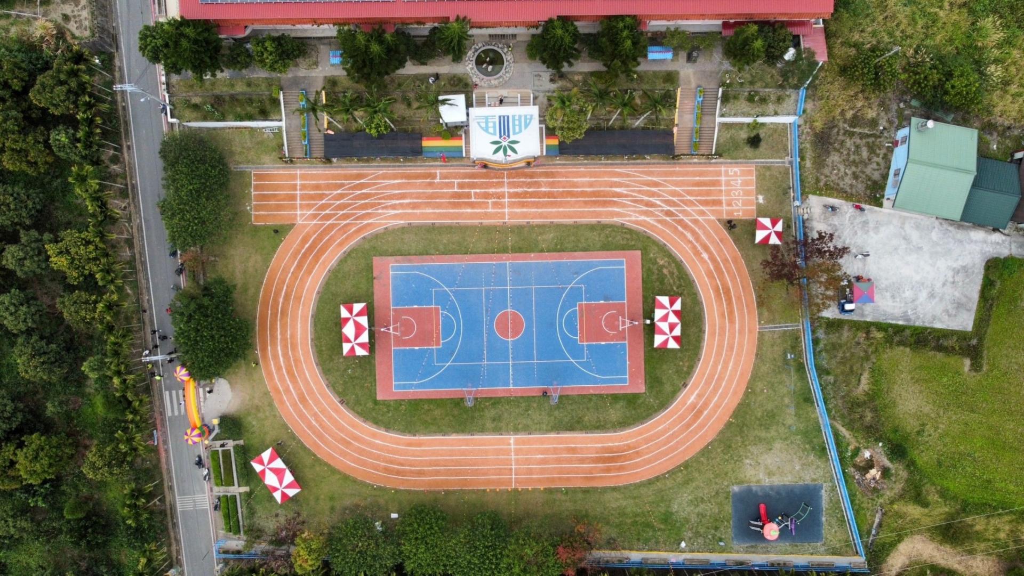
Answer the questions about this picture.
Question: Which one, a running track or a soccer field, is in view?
running track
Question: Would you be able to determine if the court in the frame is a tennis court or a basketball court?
basketball court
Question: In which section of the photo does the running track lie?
center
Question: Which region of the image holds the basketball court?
center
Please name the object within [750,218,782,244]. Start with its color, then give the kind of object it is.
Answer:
white tent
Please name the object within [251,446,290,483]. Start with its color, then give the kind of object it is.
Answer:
white tent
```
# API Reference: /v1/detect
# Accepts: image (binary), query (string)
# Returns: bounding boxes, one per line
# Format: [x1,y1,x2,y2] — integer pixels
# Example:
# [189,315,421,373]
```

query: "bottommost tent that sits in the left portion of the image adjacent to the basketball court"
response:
[342,328,373,356]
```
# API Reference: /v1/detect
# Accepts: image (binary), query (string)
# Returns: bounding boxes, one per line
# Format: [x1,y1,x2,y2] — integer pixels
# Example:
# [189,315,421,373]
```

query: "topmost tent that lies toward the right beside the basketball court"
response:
[651,296,681,322]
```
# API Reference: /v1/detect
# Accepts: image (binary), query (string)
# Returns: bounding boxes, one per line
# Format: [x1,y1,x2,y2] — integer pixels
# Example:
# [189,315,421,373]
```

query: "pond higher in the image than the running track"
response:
[464,38,516,91]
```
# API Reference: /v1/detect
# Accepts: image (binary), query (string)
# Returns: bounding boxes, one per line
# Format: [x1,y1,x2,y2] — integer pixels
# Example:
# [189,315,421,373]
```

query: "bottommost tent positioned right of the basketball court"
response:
[650,322,681,349]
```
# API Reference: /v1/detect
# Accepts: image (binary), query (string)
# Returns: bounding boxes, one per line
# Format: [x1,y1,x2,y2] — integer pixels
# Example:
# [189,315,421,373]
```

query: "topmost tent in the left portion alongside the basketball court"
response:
[340,303,369,330]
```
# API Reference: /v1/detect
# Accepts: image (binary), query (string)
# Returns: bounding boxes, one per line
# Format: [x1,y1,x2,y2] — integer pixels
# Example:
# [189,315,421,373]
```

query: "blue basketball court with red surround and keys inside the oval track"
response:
[373,250,645,399]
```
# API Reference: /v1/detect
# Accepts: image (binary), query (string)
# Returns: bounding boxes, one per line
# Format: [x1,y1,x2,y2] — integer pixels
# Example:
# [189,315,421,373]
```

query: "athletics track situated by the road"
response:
[250,164,758,491]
